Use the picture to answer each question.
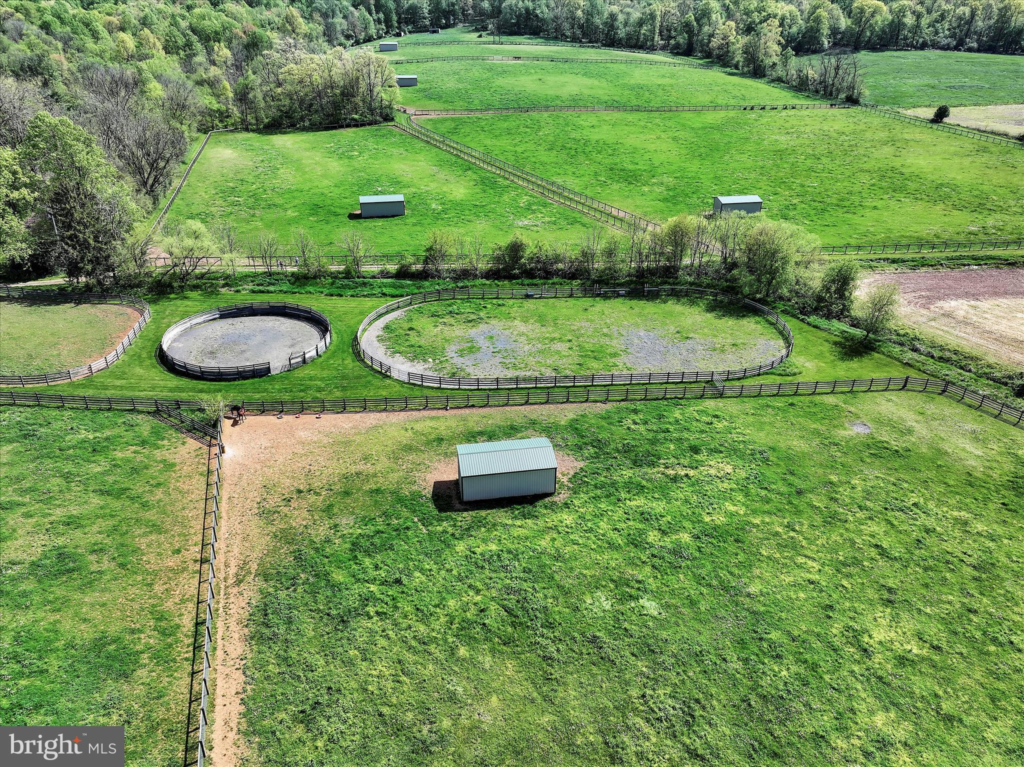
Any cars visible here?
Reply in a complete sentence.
No, this view has no car in it.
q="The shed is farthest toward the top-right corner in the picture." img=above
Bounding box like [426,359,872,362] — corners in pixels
[709,190,765,216]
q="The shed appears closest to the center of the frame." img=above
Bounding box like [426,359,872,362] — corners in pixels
[456,441,558,502]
